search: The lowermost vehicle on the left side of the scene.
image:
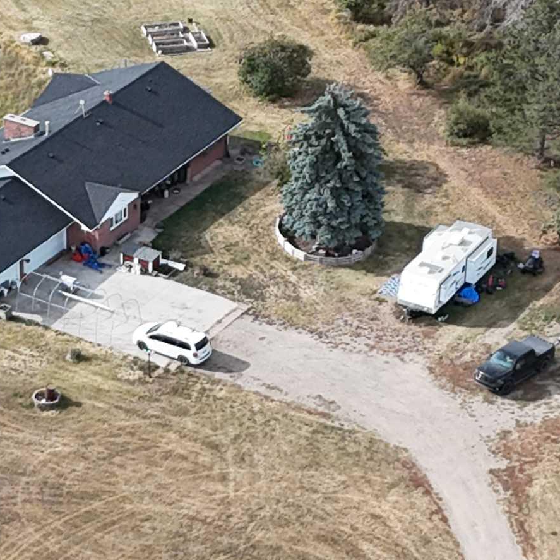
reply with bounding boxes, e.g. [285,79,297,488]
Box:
[129,320,214,365]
